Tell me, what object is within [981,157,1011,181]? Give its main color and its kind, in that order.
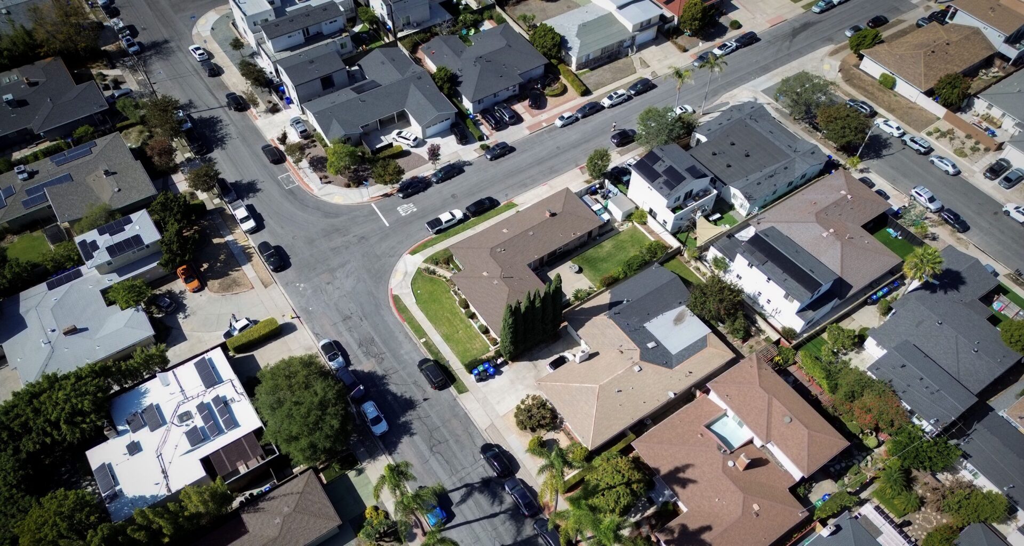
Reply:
black car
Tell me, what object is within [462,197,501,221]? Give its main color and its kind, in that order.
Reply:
black car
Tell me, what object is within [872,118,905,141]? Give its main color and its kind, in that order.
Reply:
white car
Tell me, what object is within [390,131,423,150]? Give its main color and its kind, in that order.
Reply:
white car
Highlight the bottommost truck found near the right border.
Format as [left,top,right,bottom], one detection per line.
[975,255,1014,289]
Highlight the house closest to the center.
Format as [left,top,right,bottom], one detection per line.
[449,187,604,337]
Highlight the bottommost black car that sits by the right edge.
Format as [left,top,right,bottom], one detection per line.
[933,206,974,236]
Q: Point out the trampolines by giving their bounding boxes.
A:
[34,217,72,246]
